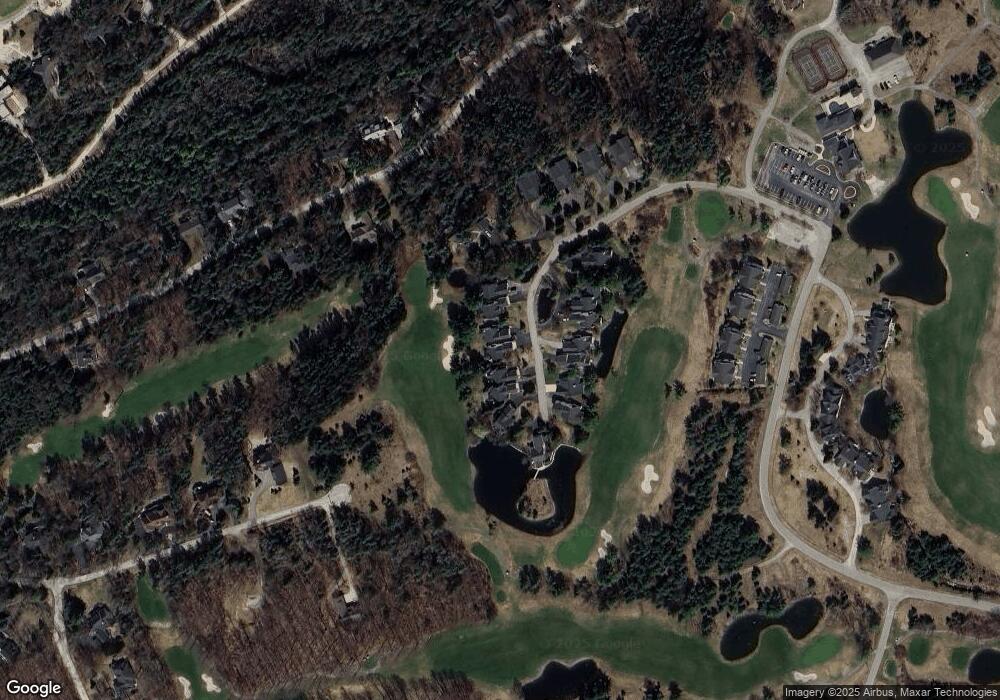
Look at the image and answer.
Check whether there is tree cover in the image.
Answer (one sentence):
Yes, there's tree cover in this view.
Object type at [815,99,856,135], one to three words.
building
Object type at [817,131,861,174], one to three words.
building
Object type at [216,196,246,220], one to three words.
house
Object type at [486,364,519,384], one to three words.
house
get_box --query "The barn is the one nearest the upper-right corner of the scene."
[864,36,906,73]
